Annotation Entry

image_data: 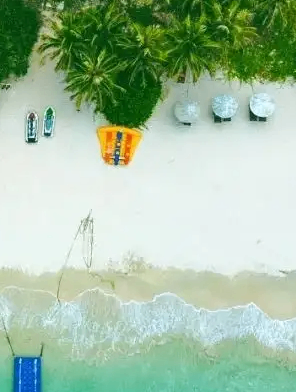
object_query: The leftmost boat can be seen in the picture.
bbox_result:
[26,109,39,143]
